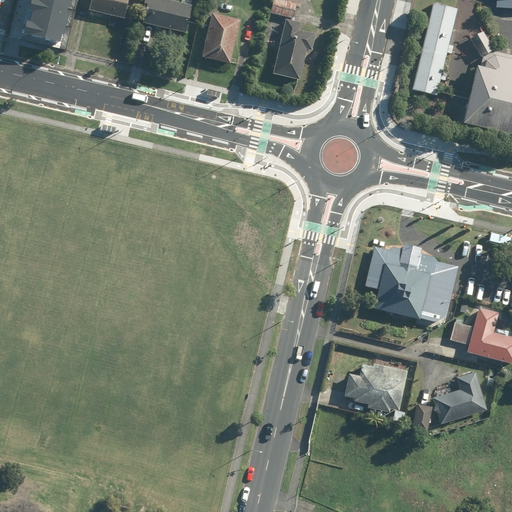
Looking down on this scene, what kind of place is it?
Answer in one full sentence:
This looks like a sports ground.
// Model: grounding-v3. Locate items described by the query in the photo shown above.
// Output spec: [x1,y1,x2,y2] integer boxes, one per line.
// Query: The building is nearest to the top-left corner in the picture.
[22,0,80,48]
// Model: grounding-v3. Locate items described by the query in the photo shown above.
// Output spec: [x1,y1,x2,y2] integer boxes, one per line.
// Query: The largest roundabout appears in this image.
[320,136,360,176]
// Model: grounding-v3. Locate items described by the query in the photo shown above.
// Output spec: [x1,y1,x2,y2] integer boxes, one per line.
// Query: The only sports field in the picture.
[0,118,291,512]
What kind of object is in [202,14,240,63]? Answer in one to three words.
house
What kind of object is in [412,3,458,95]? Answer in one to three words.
building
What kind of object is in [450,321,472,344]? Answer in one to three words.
building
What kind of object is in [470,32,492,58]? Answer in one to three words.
shed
